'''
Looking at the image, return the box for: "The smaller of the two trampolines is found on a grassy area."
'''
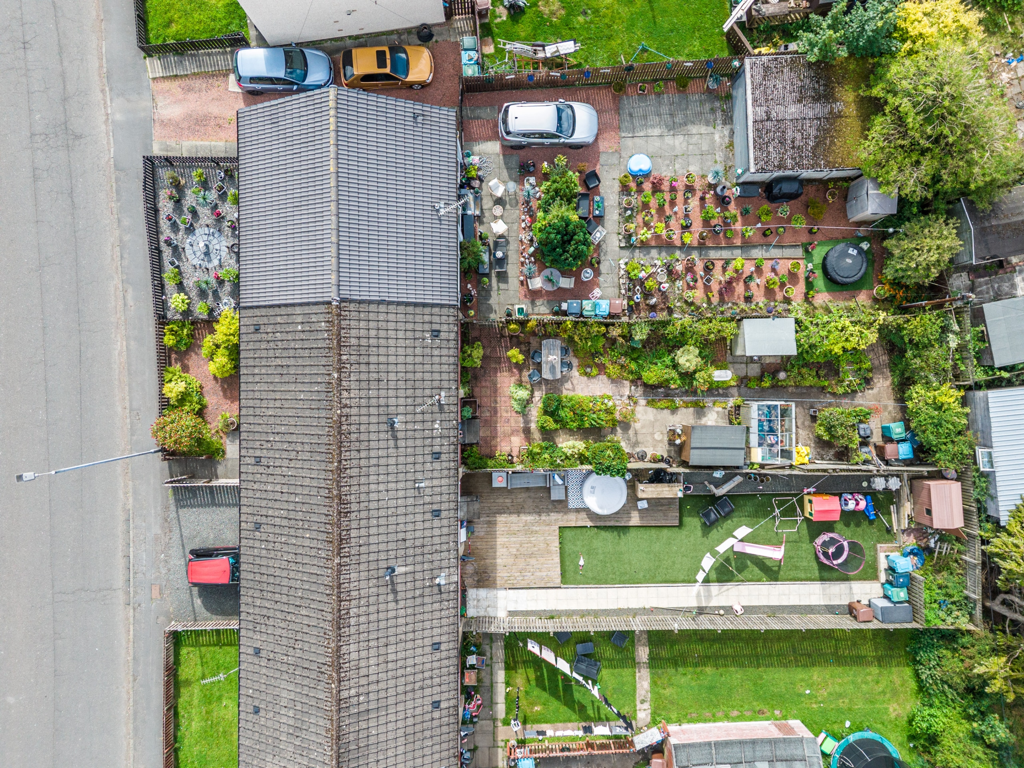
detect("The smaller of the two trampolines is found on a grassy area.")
[815,533,865,574]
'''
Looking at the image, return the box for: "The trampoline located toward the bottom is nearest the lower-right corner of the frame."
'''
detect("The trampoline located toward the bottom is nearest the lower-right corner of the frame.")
[825,725,918,768]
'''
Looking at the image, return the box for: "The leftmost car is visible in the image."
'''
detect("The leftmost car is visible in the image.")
[190,545,236,592]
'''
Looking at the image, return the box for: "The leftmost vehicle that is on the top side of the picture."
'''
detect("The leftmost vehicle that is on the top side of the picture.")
[235,42,335,97]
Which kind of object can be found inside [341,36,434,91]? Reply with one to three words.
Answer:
car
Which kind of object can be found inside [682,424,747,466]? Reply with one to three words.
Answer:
shed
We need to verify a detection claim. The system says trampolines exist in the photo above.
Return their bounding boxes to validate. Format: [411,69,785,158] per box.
[815,533,865,574]
[825,725,918,768]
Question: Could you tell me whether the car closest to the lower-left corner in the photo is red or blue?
red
